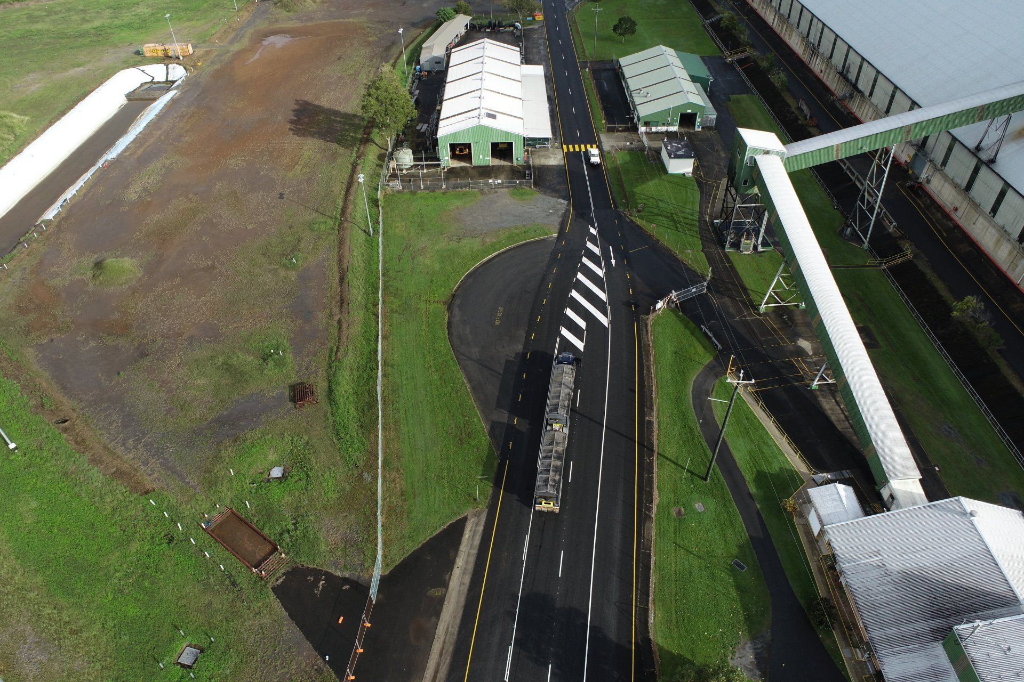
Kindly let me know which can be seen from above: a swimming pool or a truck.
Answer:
truck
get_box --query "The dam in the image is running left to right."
[126,81,175,99]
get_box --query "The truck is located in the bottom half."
[535,352,577,516]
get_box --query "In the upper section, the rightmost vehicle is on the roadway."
[588,144,600,162]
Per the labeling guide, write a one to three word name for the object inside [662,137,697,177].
shed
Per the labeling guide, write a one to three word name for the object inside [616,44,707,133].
shed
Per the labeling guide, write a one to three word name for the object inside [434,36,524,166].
building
